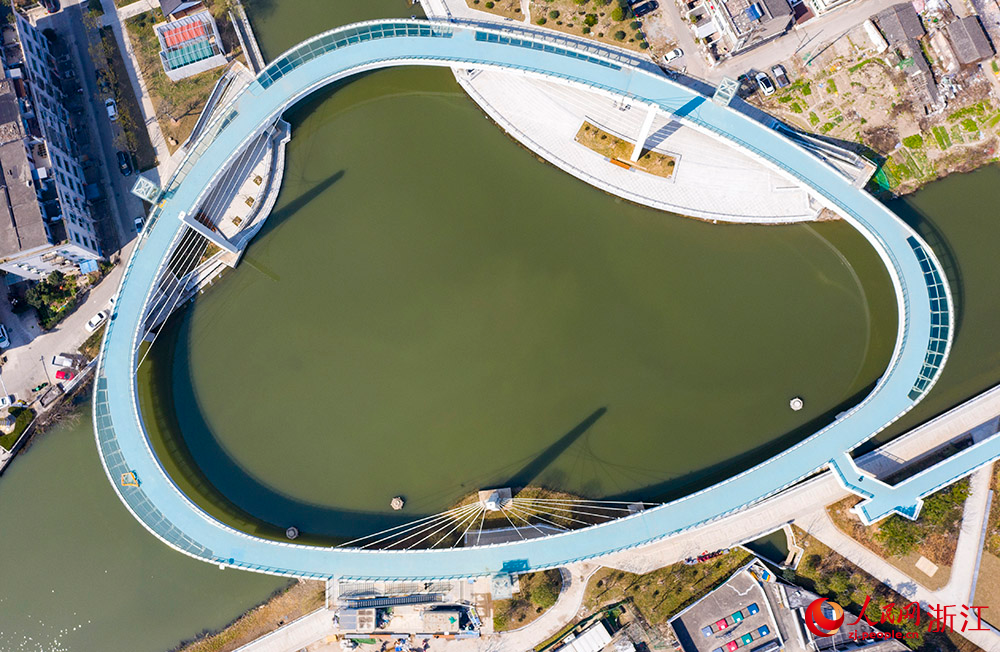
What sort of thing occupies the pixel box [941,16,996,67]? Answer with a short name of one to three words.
shed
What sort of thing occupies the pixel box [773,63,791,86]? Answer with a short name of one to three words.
vehicle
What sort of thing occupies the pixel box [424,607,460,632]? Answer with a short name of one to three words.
building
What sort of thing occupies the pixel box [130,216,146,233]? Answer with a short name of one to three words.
car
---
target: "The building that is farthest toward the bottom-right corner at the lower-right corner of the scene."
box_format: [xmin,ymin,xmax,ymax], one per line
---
[777,583,905,652]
